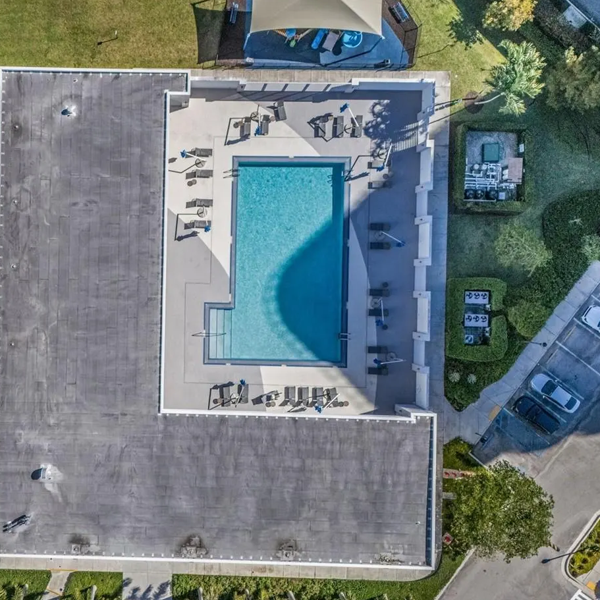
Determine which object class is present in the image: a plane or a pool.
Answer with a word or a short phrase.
pool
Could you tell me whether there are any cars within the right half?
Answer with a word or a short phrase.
Yes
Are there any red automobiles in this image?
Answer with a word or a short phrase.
No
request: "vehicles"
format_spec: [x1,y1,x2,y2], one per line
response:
[529,372,583,416]
[510,393,564,436]
[579,303,600,332]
